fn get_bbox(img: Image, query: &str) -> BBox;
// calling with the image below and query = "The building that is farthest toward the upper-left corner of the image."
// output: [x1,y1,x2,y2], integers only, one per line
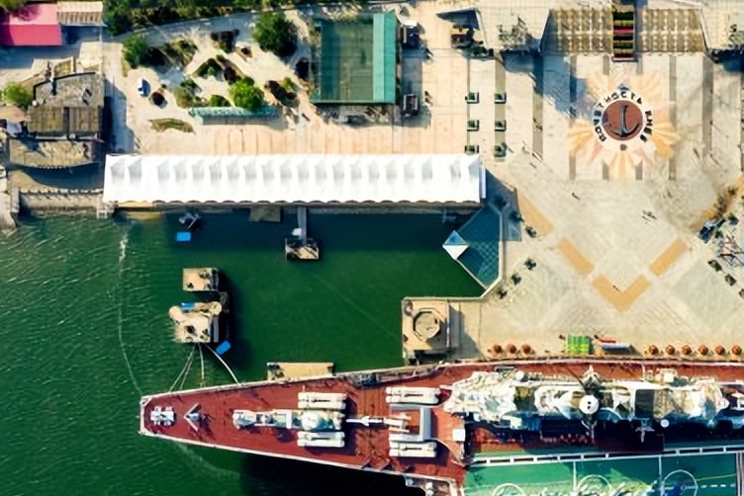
[0,4,66,47]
